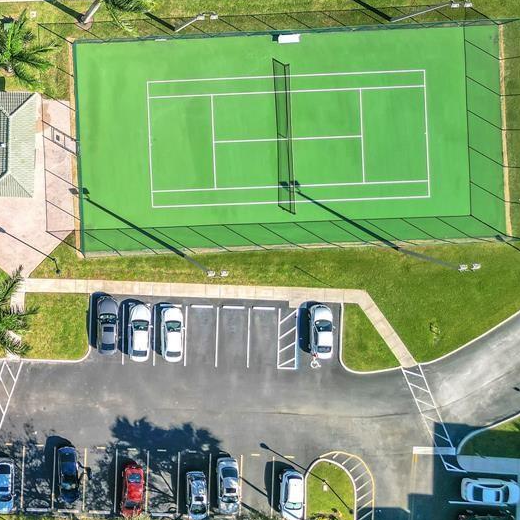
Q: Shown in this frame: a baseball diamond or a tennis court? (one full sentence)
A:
There is a tennis court in the scene.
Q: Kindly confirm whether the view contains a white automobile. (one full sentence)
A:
Yes, the photo shows a white automobile.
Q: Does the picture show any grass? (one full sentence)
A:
Yes, some grass is visible.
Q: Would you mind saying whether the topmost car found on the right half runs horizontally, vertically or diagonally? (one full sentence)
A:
The topmost car found on the right half is laid out vertically.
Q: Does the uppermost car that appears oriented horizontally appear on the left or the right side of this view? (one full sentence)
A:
The uppermost car that appears oriented horizontally sits on the right side.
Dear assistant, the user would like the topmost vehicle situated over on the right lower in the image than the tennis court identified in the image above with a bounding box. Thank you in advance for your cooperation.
[306,303,335,358]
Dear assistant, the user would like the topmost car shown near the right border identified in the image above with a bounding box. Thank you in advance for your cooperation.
[461,476,520,506]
